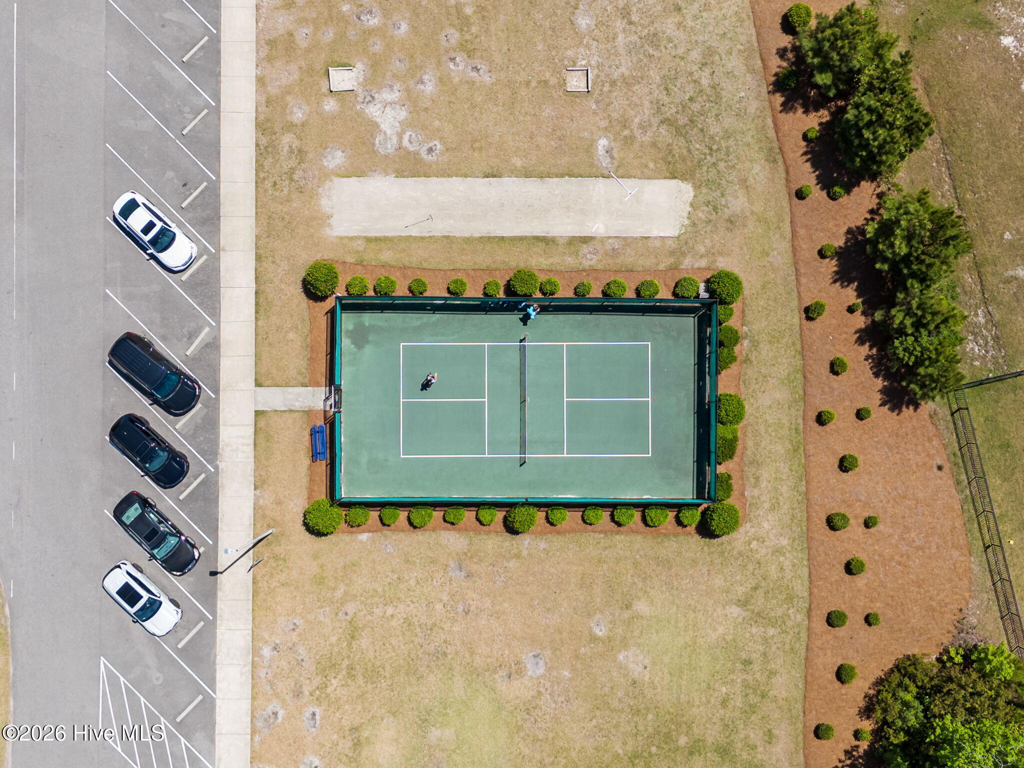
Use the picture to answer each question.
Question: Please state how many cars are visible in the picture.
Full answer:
There are 5 cars in the image.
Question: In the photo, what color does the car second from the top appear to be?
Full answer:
The color of the car second from the top is black.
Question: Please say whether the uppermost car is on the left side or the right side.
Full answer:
The uppermost car sits on the left side.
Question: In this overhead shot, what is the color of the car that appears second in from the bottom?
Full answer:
The car that appears second in from the bottom is black.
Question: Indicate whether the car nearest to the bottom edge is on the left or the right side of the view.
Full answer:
The car nearest to the bottom edge is on the left side of the image.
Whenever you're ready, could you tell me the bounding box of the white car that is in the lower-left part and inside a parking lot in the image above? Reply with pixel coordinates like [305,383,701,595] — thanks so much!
[102,559,183,634]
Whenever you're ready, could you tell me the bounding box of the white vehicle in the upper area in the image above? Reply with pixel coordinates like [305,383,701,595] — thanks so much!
[113,190,197,269]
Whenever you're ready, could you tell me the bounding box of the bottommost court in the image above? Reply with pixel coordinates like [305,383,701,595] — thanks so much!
[341,299,710,498]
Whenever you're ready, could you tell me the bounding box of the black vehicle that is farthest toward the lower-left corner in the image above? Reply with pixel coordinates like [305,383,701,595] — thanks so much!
[114,492,198,573]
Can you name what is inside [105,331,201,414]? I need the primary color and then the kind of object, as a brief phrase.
black car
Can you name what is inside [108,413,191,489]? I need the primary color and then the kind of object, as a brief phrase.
black car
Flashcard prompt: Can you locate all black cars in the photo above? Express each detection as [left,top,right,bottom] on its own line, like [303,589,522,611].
[114,492,198,573]
[108,413,191,489]
[105,331,201,414]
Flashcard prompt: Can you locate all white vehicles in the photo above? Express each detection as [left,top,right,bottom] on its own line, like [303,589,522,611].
[102,559,183,634]
[113,190,197,269]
